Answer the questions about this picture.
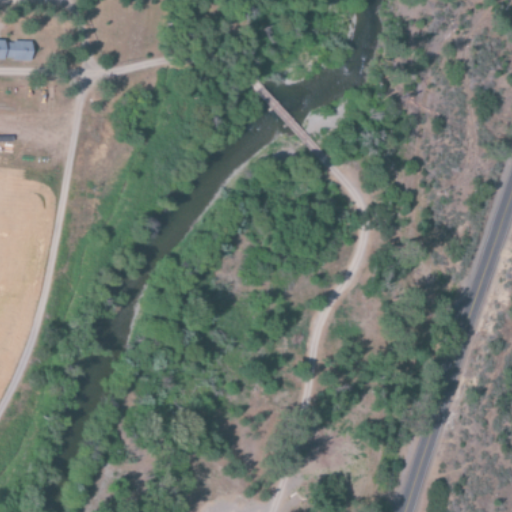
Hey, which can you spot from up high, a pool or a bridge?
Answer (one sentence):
Of the two, only a bridge appears.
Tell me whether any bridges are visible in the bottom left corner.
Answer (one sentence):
No, the scene shows no bridge in the bottom left corner.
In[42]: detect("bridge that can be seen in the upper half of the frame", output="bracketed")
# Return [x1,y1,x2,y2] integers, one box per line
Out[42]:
[252,78,320,156]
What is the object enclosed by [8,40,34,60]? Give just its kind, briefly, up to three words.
house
